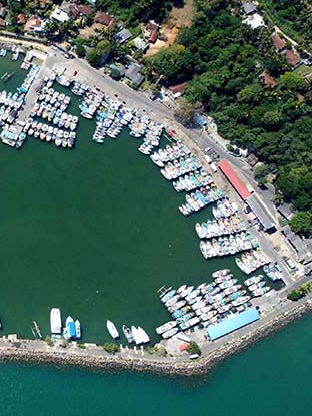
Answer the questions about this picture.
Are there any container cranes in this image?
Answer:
No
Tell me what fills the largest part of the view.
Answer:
water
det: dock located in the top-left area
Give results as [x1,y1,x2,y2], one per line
[10,61,56,140]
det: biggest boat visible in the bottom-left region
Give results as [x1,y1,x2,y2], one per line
[50,307,62,333]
